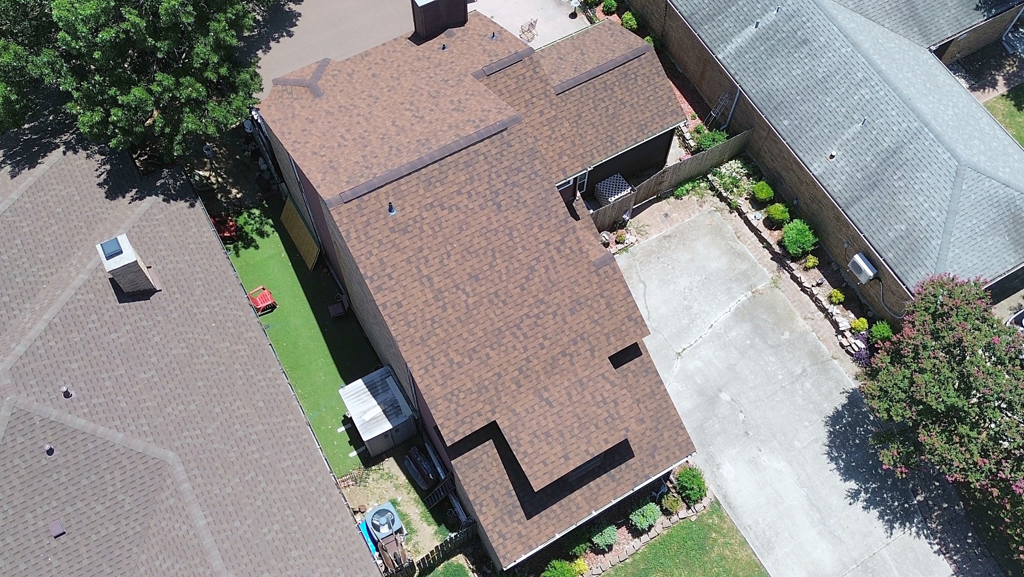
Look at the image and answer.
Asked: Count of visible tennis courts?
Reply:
none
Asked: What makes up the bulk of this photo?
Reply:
buildings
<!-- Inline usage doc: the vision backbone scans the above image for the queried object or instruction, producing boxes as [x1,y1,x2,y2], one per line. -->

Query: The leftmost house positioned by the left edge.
[0,115,386,577]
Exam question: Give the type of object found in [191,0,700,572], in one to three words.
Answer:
house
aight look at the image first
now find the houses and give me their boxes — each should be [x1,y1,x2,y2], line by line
[191,0,700,572]
[0,115,386,577]
[624,0,1024,340]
